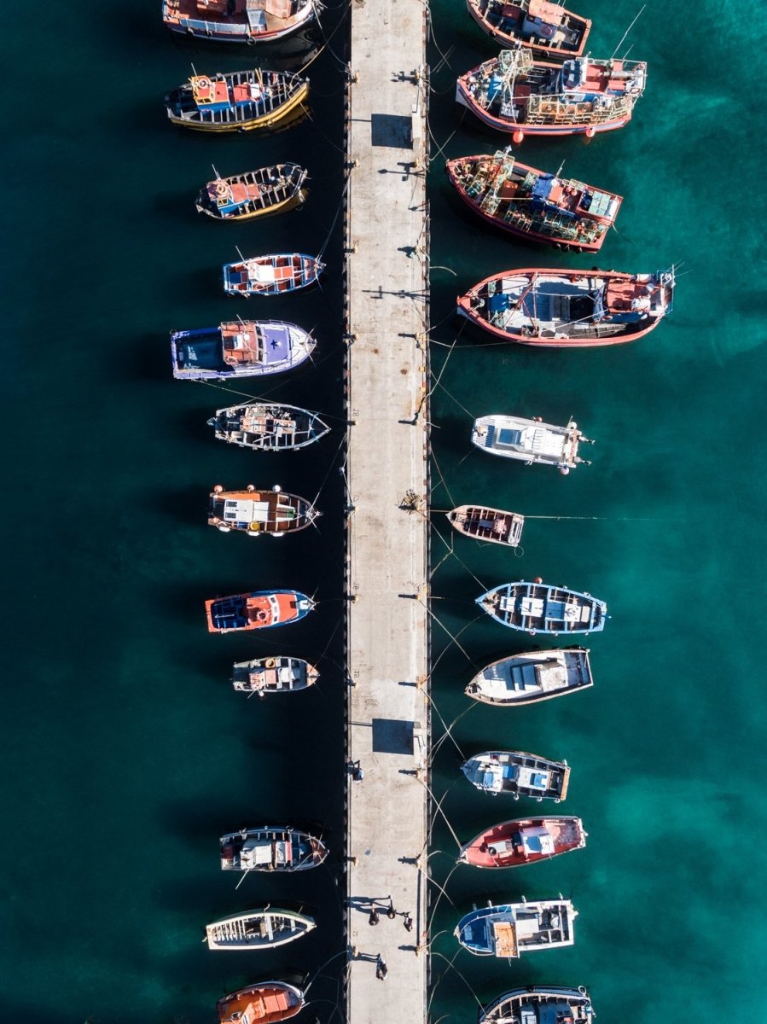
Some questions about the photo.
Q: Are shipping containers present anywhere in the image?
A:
No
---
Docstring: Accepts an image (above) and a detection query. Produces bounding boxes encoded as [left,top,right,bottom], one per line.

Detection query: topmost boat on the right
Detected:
[466,0,592,62]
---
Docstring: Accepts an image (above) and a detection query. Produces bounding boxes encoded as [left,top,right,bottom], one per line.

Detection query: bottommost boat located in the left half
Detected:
[216,969,305,1024]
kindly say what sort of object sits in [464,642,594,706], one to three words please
boat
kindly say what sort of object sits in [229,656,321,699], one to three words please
boat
